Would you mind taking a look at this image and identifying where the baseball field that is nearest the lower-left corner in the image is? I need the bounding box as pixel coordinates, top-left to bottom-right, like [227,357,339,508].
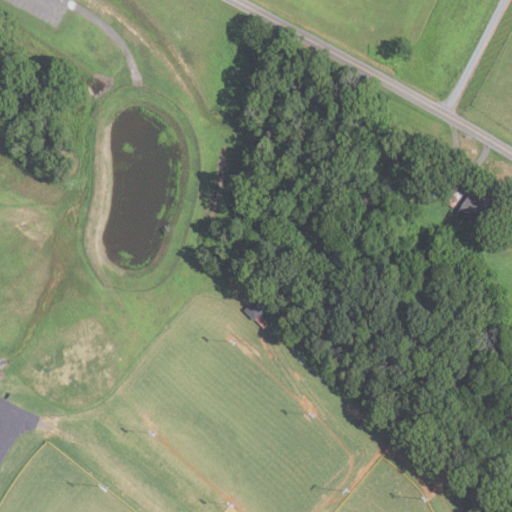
[0,444,131,512]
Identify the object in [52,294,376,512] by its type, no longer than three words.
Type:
sports field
